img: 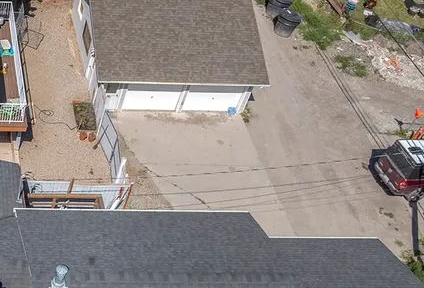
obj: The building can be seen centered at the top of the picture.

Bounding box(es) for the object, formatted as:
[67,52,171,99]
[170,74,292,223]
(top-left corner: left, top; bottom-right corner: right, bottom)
[74,0,271,118]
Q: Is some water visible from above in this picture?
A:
No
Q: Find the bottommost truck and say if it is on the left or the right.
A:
right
